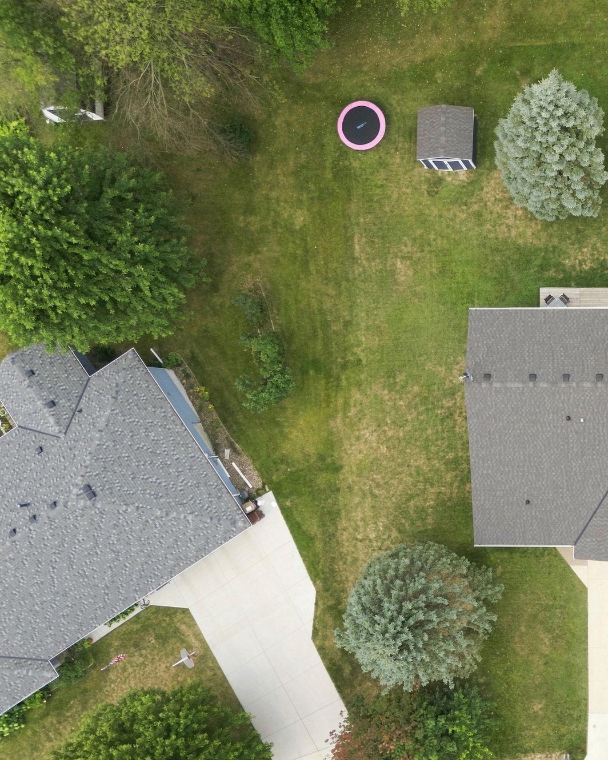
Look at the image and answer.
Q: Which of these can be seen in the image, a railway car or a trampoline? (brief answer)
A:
trampoline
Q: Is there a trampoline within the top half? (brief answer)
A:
Yes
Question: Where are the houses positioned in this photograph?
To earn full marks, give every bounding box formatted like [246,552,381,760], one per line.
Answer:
[0,330,258,715]
[459,305,608,563]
